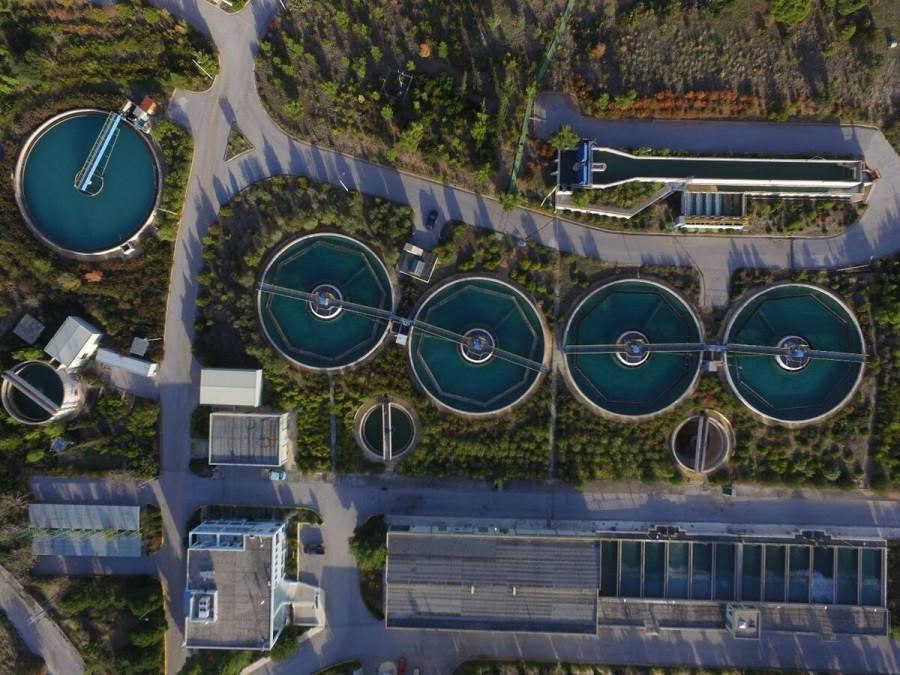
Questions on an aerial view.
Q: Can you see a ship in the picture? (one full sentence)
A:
No, I can see no ship in this picture.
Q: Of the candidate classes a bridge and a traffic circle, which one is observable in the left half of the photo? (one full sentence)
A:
Visible in the left half of the photo is a bridge.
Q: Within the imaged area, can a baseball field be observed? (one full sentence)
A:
No, I find no baseball field anywhere in the image.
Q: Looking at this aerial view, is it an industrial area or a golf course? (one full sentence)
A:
The picture captures an industrial area.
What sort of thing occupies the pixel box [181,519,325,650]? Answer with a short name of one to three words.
building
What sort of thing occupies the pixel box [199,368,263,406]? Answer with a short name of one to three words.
shed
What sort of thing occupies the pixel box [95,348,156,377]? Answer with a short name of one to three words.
shed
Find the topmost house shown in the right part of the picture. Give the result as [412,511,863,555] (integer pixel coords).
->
[675,193,750,231]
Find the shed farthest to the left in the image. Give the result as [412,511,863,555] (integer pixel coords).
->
[11,313,48,345]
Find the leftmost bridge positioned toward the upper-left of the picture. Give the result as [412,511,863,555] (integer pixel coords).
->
[73,108,123,199]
